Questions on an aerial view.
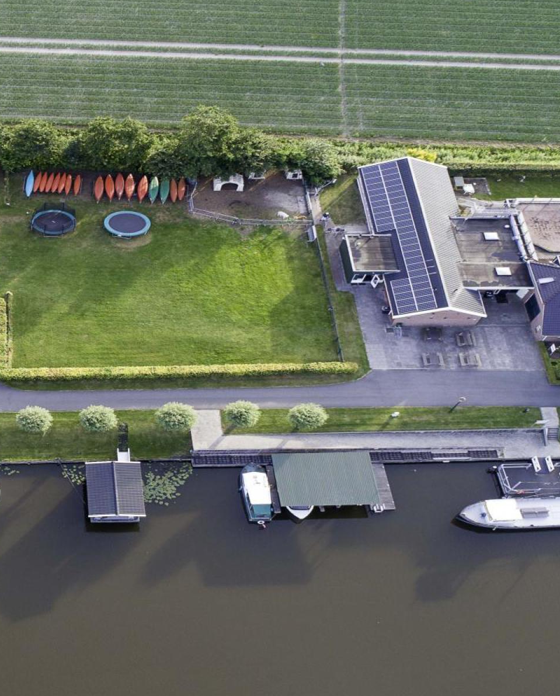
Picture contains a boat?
Yes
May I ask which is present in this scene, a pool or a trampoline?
trampoline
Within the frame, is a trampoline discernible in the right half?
No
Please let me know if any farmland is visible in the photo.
Yes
